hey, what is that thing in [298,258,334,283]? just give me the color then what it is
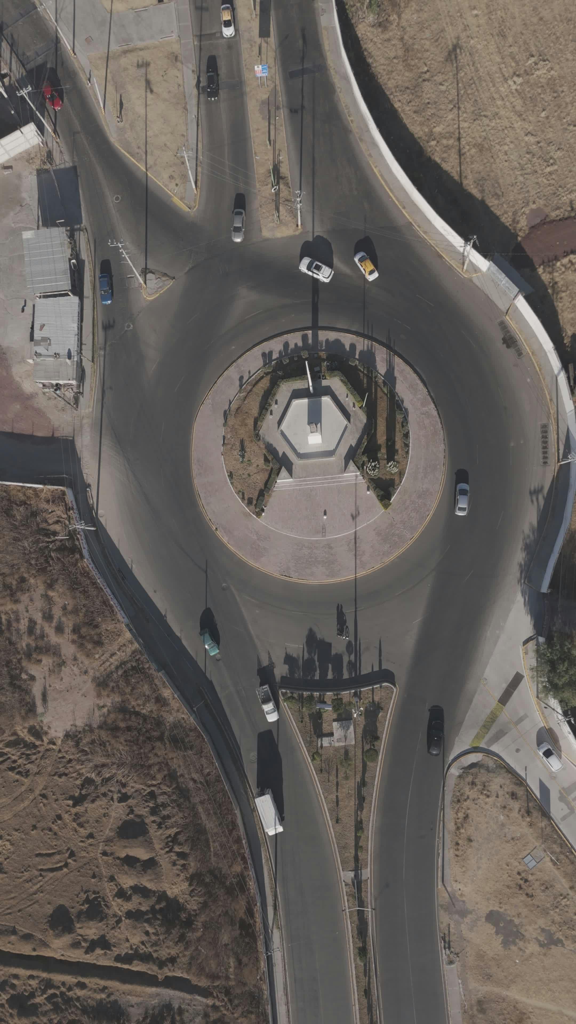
white car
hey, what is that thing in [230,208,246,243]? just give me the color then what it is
gray car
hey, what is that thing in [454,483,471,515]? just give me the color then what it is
gray car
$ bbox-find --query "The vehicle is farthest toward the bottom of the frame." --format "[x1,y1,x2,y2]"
[255,784,284,834]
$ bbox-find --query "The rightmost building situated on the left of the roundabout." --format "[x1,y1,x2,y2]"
[21,294,85,384]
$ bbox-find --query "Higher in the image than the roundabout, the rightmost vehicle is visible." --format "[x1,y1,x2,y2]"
[356,251,379,282]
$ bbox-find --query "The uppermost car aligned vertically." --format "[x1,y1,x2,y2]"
[220,5,236,41]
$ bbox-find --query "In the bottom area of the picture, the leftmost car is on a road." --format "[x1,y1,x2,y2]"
[199,626,220,656]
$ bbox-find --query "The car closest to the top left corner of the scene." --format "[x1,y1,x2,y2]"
[42,79,63,112]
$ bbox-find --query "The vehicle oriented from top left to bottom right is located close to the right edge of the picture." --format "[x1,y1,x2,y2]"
[537,741,564,773]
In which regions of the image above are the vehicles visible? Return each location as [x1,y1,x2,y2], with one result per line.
[454,483,471,515]
[230,208,246,243]
[98,273,114,306]
[199,626,220,656]
[257,684,279,722]
[220,5,236,41]
[356,251,379,282]
[42,79,63,112]
[298,258,334,283]
[255,784,284,834]
[205,69,220,102]
[537,741,564,773]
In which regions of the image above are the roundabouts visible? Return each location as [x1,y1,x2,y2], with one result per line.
[189,325,449,585]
